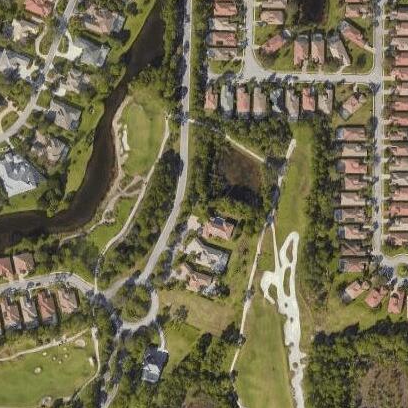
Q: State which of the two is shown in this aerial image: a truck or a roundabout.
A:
roundabout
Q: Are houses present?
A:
Yes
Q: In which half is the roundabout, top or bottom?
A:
bottom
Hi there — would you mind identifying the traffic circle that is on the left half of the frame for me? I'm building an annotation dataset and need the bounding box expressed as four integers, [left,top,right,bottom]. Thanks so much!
[104,277,159,329]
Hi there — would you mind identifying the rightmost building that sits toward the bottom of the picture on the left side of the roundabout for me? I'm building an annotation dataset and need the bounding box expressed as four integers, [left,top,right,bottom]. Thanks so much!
[60,287,80,313]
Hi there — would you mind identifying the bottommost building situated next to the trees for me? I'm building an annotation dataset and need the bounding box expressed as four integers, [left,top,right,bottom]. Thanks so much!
[143,340,168,383]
